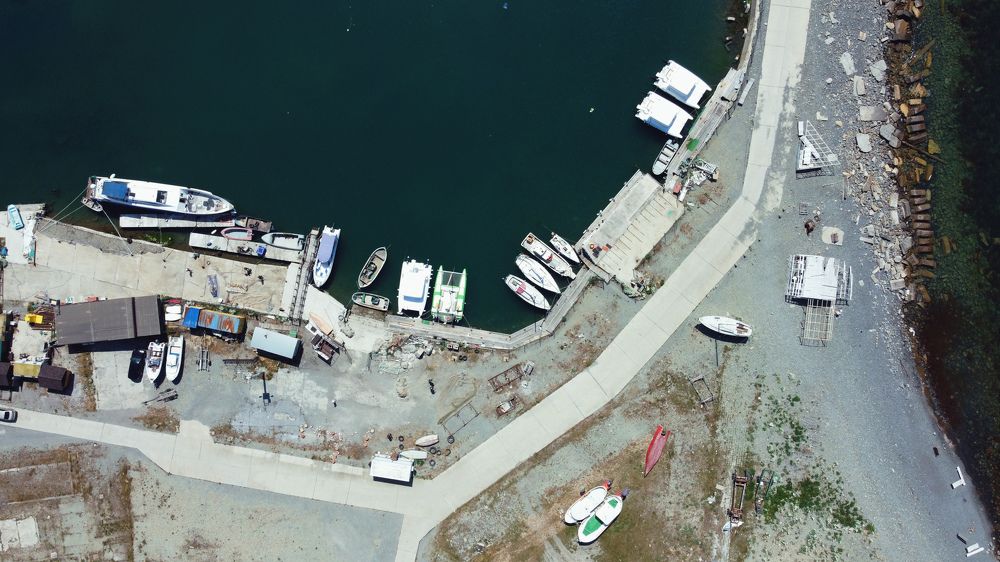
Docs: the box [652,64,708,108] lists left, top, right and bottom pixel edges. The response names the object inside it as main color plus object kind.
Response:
white boat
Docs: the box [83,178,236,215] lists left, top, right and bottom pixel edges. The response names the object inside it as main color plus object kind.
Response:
white boat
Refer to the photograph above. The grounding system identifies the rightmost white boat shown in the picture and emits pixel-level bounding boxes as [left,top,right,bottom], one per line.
[697,313,755,336]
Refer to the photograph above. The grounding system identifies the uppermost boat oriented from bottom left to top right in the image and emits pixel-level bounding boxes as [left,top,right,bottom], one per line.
[654,138,681,174]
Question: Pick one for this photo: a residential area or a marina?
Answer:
marina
